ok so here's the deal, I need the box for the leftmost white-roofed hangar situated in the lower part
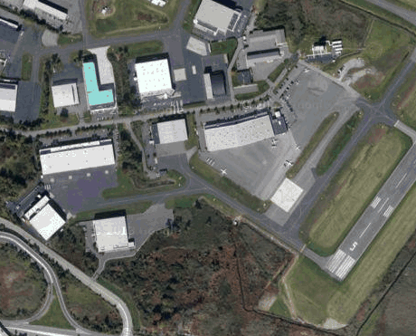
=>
[24,196,66,240]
